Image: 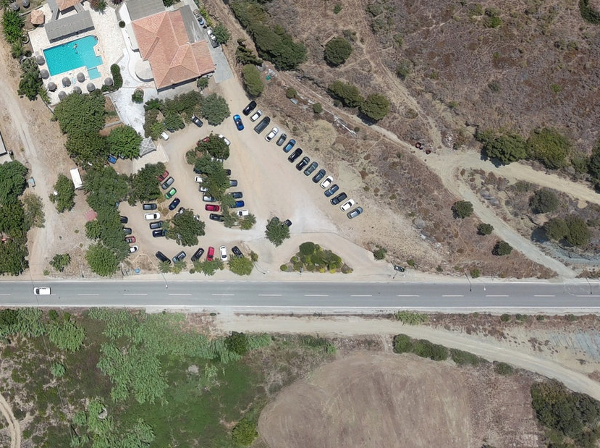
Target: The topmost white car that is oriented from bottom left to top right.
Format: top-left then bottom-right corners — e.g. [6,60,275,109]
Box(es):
[250,107,263,123]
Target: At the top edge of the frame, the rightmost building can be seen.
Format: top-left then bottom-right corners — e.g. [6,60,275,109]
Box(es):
[124,0,214,89]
